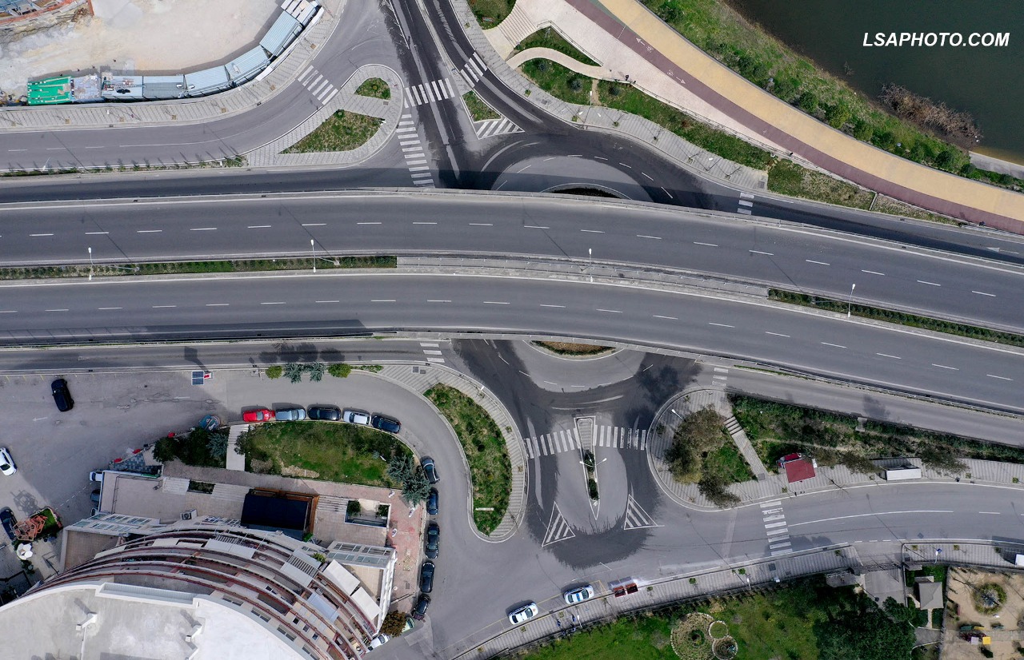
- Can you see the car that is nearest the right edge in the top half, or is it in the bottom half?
bottom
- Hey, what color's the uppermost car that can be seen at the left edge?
black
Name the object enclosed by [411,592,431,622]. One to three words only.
car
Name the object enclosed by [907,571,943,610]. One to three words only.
building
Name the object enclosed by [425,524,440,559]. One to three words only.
car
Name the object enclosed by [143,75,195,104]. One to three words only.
shed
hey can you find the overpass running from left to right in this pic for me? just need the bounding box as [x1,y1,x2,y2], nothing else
[0,187,1024,416]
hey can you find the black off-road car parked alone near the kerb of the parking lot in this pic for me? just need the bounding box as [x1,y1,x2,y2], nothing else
[51,379,75,412]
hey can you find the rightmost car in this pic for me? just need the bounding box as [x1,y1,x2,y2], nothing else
[564,583,595,604]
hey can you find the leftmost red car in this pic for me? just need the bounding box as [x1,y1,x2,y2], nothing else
[244,408,275,424]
